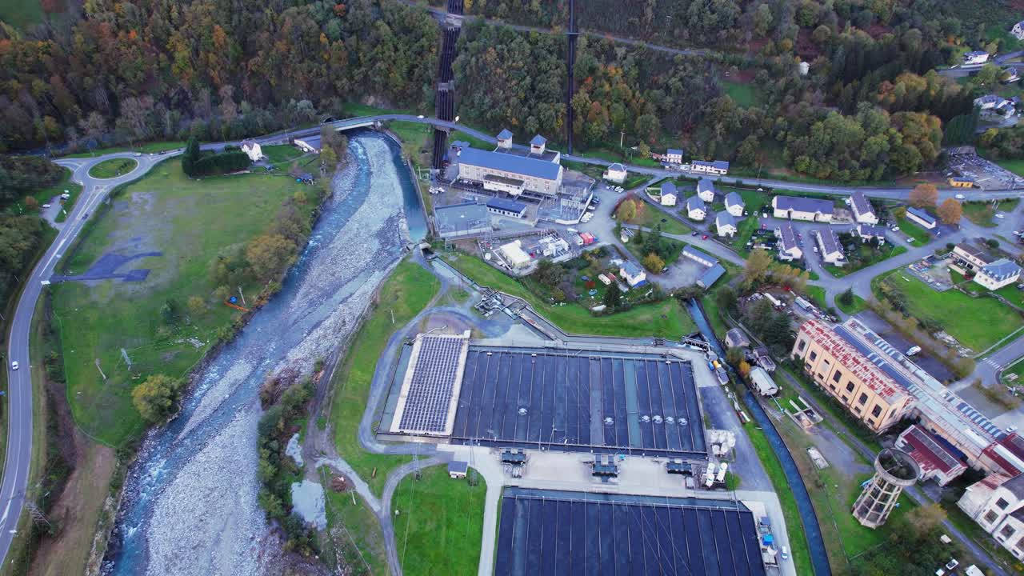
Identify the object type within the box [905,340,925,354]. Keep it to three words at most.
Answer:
vehicle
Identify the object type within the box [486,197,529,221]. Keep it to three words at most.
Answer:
building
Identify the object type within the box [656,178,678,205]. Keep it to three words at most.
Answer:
house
